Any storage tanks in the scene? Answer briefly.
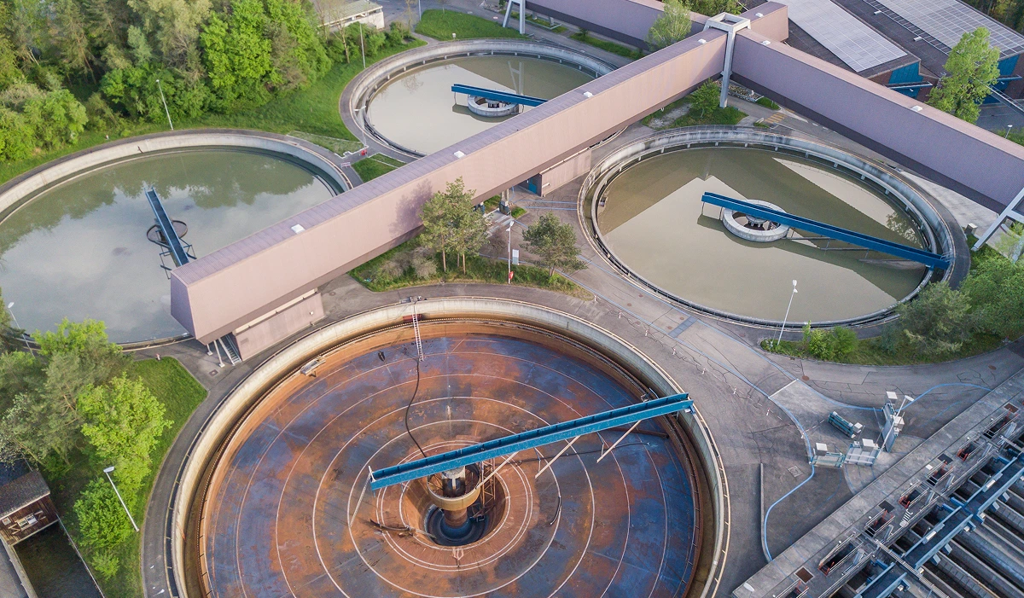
Yes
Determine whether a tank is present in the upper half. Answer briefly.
Yes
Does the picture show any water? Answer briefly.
Yes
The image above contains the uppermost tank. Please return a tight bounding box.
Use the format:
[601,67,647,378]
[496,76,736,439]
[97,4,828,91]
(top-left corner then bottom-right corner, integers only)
[352,42,652,164]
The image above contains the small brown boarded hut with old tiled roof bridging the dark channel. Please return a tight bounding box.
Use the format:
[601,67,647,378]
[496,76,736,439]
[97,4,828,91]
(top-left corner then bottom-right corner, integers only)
[0,473,62,557]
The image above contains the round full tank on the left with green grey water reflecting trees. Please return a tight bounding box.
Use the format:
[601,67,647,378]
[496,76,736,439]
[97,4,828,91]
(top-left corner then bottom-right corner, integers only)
[0,131,352,225]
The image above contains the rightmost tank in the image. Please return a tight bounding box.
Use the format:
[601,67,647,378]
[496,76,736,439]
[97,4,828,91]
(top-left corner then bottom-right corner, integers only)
[576,132,952,341]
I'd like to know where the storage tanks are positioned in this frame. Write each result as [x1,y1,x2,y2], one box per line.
[170,302,728,598]
[576,132,952,341]
[352,42,652,164]
[0,131,352,225]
